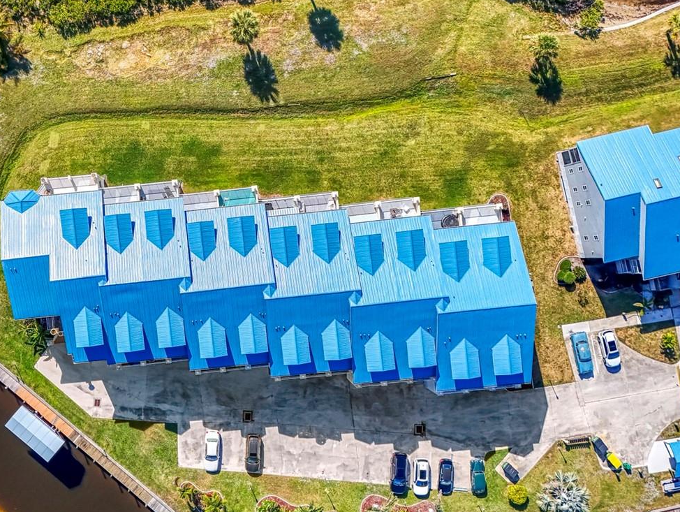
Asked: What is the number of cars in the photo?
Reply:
8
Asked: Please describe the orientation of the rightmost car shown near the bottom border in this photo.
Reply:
up and down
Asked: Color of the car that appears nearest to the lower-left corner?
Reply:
white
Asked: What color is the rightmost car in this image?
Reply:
white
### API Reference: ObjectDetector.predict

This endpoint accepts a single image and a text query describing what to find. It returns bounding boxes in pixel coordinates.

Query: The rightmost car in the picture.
[594,326,623,372]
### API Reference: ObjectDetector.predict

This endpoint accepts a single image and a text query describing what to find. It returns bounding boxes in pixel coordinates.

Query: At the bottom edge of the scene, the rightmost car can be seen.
[468,457,488,496]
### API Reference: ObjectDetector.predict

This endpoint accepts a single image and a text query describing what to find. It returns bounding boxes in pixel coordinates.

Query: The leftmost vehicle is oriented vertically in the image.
[203,429,223,472]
